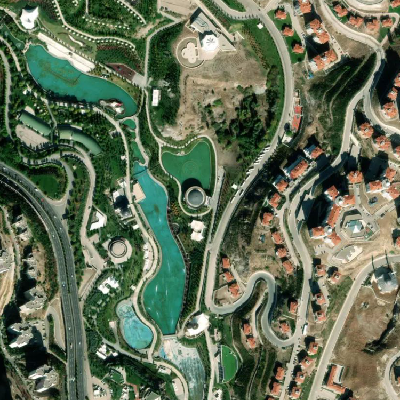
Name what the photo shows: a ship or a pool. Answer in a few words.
pool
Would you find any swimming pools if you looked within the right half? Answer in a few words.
No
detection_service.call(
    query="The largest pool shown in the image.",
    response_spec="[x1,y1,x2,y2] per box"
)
[117,304,153,349]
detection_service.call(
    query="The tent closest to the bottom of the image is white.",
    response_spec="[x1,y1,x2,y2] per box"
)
[188,313,209,335]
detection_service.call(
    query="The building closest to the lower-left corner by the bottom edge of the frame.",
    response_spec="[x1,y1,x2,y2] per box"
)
[30,364,59,390]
